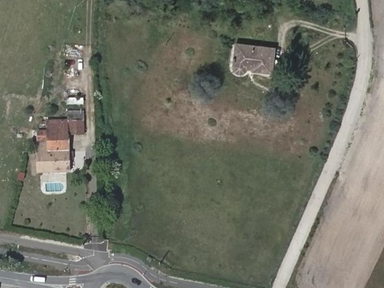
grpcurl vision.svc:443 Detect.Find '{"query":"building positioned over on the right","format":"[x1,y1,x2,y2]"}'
[231,42,276,76]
